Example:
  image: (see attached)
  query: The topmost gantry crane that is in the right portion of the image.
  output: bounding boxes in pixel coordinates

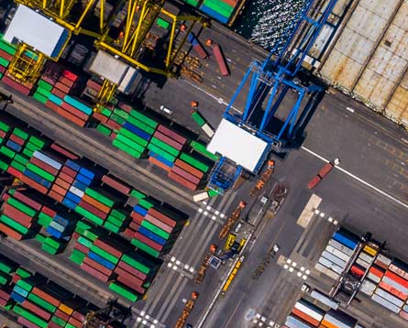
[202,0,341,201]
